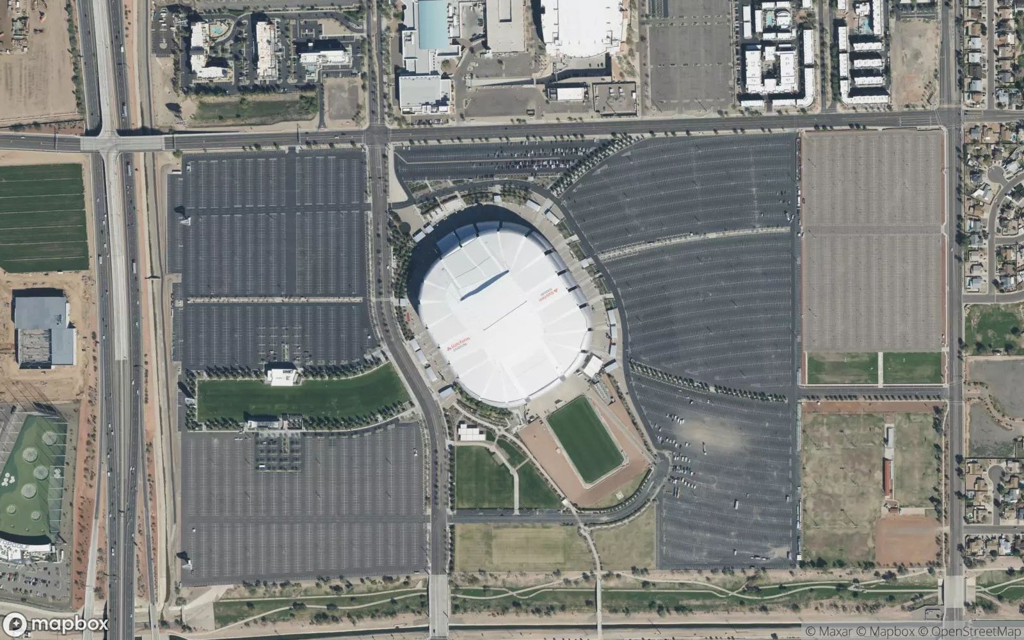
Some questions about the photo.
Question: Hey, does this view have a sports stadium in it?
Yes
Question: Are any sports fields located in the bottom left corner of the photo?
No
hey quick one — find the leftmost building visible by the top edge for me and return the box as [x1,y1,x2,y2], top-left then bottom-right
[191,22,230,79]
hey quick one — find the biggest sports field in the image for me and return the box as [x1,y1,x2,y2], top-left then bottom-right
[803,413,884,563]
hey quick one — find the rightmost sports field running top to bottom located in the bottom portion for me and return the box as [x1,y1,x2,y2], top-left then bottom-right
[895,413,936,508]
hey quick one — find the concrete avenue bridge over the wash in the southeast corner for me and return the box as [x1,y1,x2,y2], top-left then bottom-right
[944,575,965,608]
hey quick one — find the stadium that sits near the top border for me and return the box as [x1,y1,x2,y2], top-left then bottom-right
[542,0,626,57]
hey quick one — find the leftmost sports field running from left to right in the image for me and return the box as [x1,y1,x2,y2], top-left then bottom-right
[808,352,878,384]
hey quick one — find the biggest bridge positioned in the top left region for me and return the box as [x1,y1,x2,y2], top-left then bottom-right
[80,136,165,152]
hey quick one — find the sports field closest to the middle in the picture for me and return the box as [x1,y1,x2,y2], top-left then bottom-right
[547,396,623,483]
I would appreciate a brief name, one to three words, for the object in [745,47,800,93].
building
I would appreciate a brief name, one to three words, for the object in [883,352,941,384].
sports field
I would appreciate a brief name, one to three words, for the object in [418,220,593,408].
stadium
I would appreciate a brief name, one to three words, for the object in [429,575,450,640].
bridge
